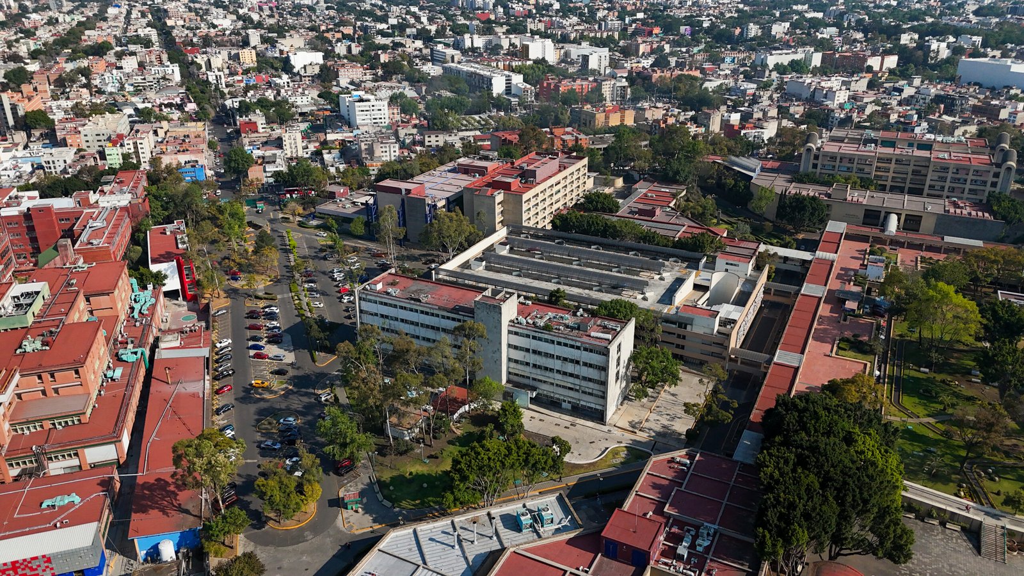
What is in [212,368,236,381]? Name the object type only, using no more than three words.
vehicle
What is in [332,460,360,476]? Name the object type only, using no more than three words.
vehicle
